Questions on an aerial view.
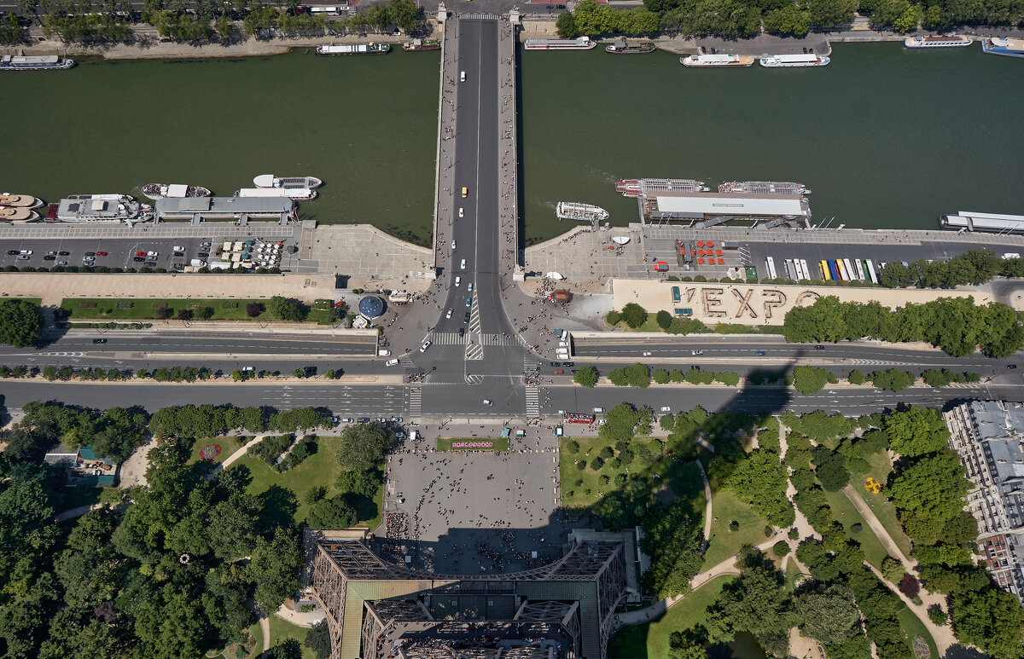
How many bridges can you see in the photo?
1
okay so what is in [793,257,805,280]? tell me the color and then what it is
white vehicle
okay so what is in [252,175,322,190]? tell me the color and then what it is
white boat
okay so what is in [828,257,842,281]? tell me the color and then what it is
blue vehicle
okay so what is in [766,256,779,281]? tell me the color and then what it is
white vehicle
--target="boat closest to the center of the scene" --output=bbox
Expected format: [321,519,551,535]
[556,202,610,222]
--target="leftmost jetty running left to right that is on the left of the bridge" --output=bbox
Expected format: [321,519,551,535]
[147,200,294,229]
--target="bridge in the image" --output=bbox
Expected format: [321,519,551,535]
[433,19,523,272]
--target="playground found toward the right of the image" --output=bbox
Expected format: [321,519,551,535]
[787,627,825,659]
